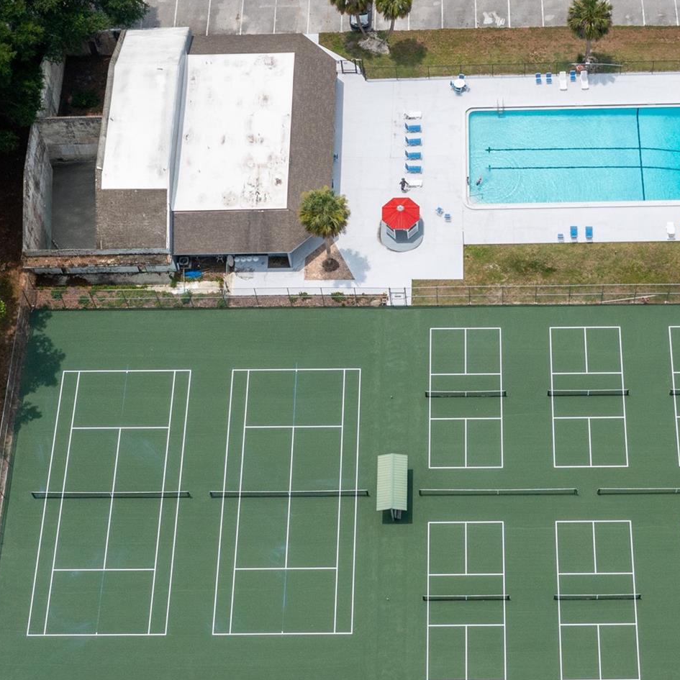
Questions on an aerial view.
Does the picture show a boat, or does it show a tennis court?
tennis court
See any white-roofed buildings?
Yes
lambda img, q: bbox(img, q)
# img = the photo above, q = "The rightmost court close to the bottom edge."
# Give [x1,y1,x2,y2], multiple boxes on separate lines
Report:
[553,519,642,680]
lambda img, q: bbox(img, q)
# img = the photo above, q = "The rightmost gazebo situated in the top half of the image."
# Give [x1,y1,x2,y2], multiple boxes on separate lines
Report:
[380,198,423,252]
